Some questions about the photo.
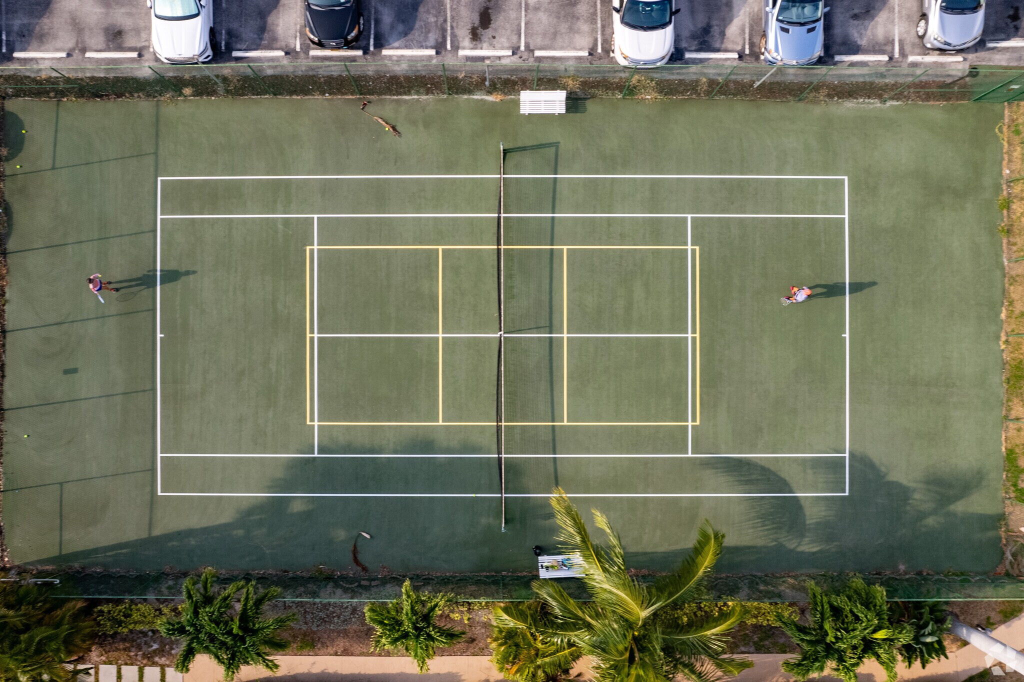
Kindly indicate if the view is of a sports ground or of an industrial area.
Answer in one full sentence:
The picture captures a sports ground.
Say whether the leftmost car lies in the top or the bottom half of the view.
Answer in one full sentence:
You can find the leftmost car in the top half.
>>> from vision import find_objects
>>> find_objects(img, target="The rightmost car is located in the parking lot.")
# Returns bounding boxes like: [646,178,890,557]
[922,0,998,54]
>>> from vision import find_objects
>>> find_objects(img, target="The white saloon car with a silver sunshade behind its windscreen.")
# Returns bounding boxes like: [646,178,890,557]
[140,0,215,65]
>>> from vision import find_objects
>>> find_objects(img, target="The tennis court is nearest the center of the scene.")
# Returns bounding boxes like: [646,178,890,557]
[2,96,1006,573]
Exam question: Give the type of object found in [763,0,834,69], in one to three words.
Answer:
car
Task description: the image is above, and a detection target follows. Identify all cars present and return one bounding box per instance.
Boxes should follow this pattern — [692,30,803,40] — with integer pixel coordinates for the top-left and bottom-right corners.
[922,0,998,54]
[610,0,683,70]
[140,0,215,65]
[763,0,834,69]
[305,0,361,51]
